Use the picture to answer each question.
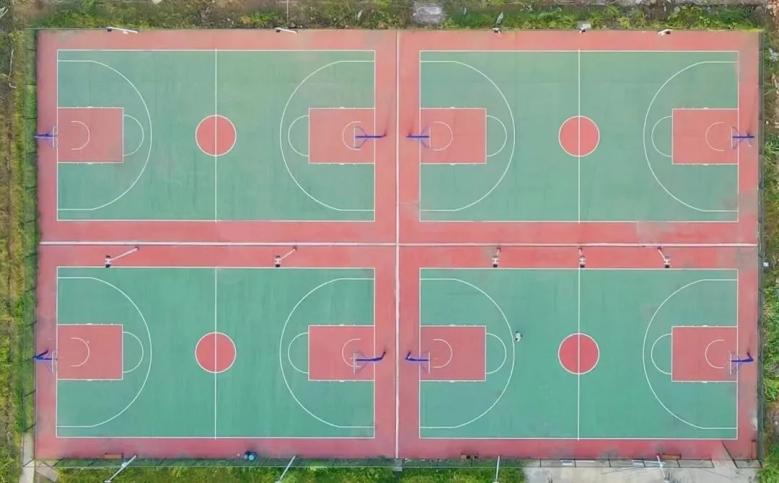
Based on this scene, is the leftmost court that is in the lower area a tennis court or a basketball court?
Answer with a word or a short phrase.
basketball court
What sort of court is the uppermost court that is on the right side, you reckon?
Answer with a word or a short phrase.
basketball court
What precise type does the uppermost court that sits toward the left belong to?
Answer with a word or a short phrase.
basketball court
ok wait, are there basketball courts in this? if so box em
[37,245,396,459]
[399,30,758,244]
[399,246,758,459]
[37,30,396,243]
